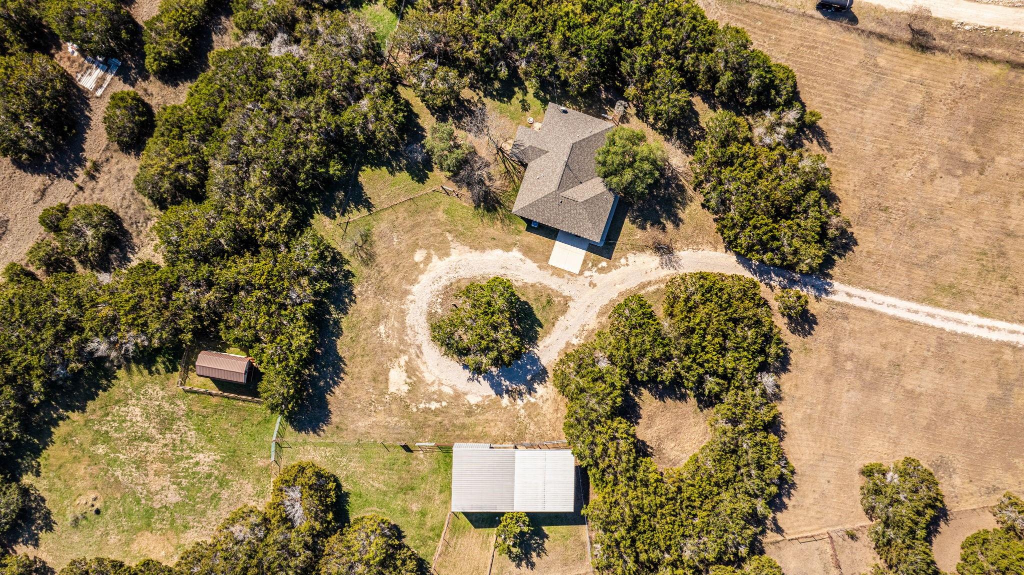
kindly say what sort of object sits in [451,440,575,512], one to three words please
barn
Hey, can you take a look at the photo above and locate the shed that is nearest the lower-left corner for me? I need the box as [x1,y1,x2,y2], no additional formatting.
[196,351,253,385]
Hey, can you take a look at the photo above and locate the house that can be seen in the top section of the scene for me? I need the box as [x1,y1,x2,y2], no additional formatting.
[509,102,619,243]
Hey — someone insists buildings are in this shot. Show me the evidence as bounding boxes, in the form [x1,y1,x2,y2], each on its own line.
[451,440,575,512]
[509,102,619,243]
[196,351,253,385]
